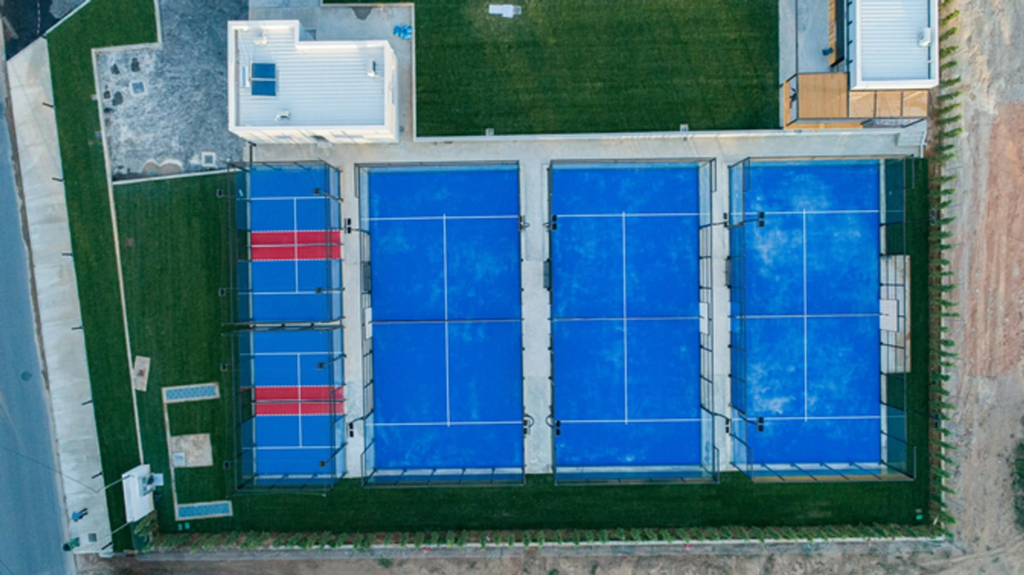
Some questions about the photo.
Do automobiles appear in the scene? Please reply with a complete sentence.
No, there's no automobile here.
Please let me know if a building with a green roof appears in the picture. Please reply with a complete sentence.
No, the frame has no building with a green roof in it.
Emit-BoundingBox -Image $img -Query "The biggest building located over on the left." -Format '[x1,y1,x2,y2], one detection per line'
[224,20,398,149]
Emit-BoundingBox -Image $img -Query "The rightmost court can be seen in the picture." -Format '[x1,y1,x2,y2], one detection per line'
[728,153,917,485]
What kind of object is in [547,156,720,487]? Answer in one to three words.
sports court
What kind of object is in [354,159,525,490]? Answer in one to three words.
sports court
